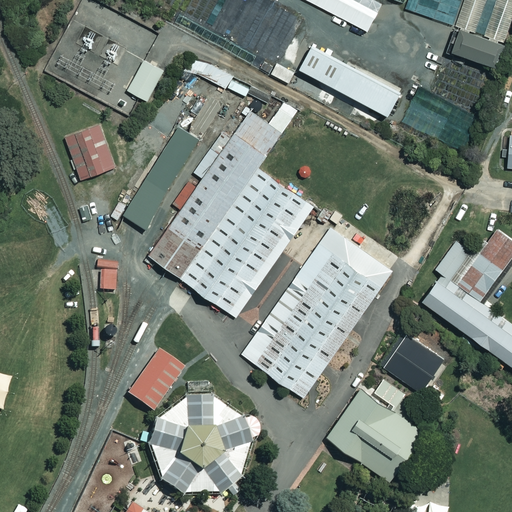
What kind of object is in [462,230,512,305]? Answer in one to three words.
house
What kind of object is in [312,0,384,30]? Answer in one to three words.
shed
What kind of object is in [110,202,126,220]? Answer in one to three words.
camper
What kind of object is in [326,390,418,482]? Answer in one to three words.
building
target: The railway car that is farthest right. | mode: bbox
[134,323,147,344]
